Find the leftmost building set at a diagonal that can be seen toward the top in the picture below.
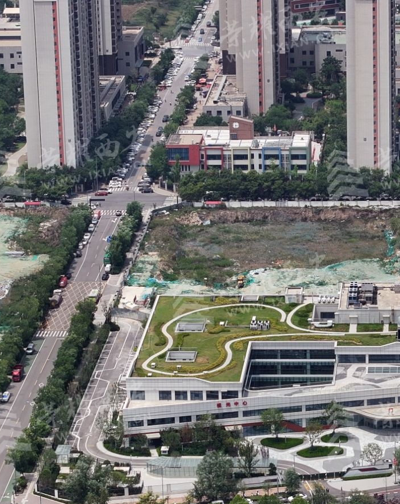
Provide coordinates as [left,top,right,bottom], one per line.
[100,78,129,120]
